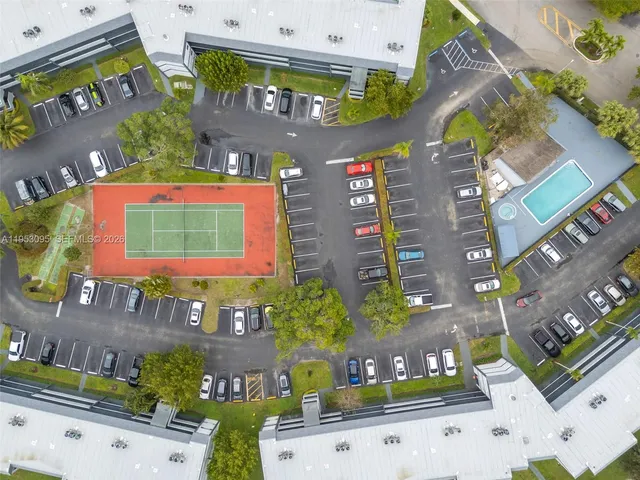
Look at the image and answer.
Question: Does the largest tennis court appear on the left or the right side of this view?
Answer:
left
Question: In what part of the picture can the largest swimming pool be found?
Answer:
right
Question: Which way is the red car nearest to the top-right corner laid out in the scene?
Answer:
diagonally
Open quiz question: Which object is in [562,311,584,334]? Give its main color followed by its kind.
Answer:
white car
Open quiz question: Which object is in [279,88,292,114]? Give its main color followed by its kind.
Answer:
gray vehicle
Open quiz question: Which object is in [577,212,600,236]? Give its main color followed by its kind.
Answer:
gray car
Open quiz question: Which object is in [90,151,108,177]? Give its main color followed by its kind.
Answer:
white car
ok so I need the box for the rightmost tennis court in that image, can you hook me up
[93,183,277,277]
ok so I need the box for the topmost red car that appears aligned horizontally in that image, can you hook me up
[347,162,372,174]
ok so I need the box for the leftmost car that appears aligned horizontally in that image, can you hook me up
[279,167,303,179]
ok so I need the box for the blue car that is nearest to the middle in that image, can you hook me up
[398,249,424,262]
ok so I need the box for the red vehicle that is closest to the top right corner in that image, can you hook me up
[591,202,612,225]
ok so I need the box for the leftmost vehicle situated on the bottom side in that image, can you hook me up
[9,331,27,360]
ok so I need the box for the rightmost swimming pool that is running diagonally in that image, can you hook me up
[522,161,592,224]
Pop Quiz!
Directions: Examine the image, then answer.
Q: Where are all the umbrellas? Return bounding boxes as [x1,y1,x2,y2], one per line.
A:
[490,172,501,184]
[496,179,508,192]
